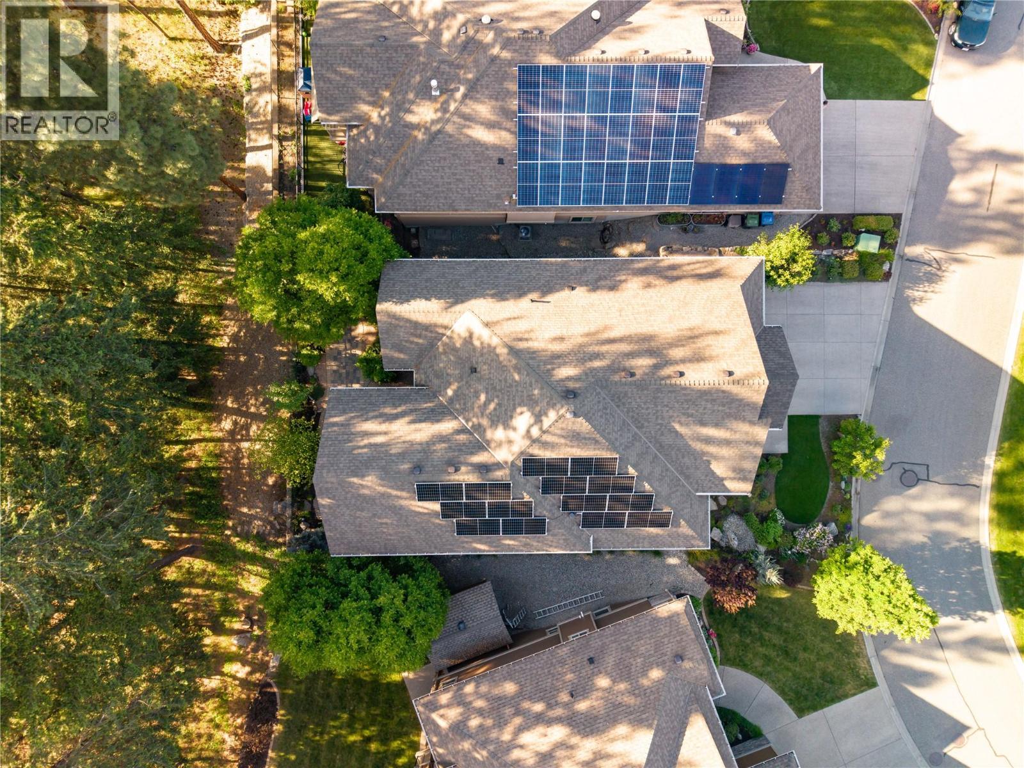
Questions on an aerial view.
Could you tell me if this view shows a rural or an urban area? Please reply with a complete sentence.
The land in this view is best described as urban.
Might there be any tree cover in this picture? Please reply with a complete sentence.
Yes, tree cover shows up in the scene.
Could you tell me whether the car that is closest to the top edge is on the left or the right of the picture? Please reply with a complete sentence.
The car that is closest to the top edge is on the right side of the image.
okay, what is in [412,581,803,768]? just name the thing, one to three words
house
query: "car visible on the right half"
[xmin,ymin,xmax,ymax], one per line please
[952,0,1011,48]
